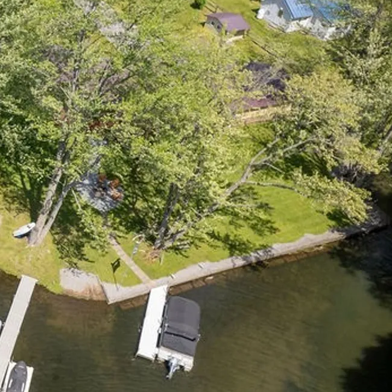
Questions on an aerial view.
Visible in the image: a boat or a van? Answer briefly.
boat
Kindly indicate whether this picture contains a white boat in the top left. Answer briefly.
No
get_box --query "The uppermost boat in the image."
[12,220,36,237]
